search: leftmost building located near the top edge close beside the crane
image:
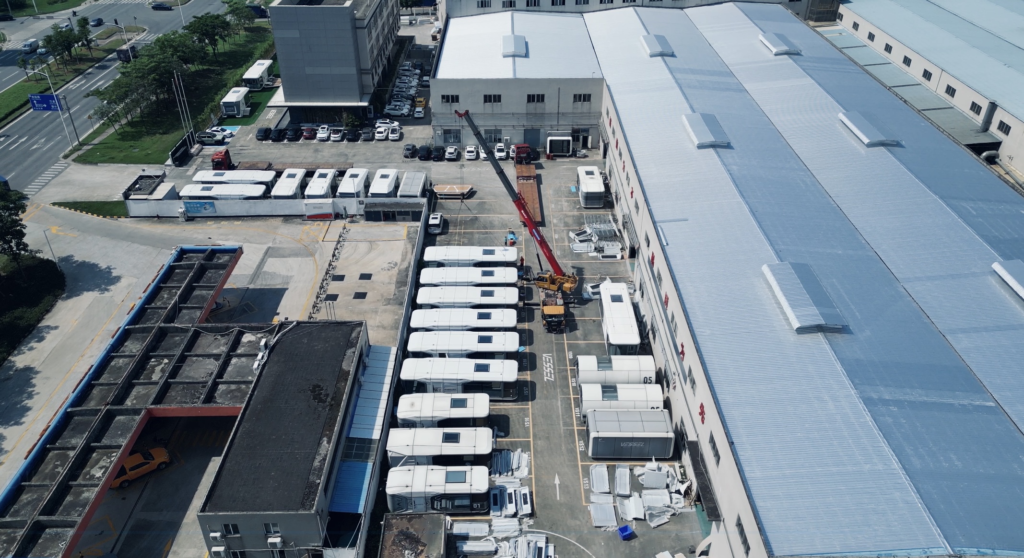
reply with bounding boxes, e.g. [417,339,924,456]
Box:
[266,0,398,121]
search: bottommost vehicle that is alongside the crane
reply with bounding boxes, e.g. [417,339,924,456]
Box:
[430,211,447,233]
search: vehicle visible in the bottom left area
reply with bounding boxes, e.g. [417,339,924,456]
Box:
[116,451,176,493]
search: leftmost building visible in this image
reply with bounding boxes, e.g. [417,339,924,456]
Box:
[122,169,191,197]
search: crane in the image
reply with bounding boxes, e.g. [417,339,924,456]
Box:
[446,107,584,331]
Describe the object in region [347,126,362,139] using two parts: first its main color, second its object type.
black vehicle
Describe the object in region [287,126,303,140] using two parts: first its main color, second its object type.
black car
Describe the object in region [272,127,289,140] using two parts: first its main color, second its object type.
black vehicle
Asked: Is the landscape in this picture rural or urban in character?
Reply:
urban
